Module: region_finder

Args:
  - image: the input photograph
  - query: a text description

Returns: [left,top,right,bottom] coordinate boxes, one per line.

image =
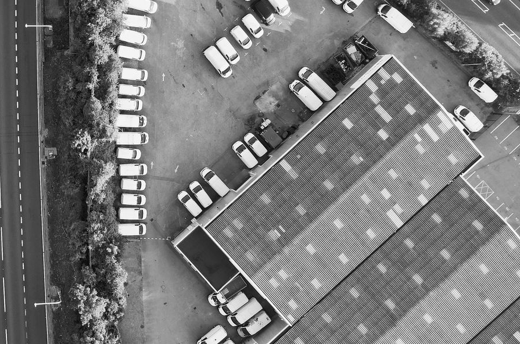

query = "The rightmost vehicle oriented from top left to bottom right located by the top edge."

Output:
[376,6,412,33]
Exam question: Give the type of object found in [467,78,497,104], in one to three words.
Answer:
car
